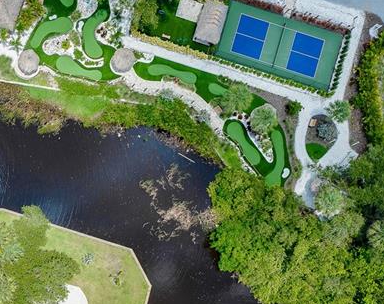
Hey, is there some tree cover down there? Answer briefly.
Yes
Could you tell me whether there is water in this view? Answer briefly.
Yes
